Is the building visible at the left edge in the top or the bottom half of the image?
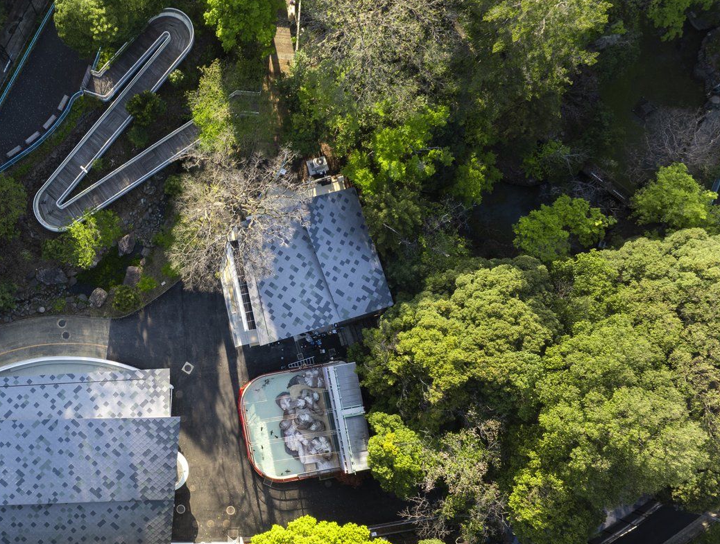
bottom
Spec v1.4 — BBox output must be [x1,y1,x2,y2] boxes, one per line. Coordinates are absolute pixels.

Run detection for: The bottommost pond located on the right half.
[463,178,557,269]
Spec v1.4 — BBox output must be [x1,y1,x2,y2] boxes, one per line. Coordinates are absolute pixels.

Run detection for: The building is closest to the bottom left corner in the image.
[0,368,181,544]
